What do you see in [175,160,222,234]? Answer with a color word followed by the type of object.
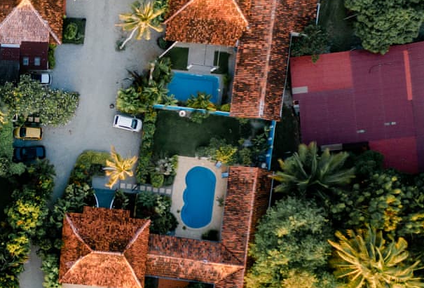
blue swimming pool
